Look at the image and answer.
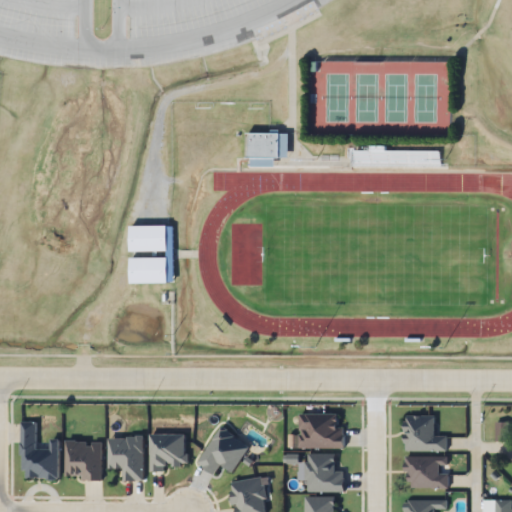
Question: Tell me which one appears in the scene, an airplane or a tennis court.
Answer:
tennis court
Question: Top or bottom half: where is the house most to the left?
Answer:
bottom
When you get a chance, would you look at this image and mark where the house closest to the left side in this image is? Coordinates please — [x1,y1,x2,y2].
[20,422,59,480]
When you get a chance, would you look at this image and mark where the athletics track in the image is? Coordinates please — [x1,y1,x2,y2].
[198,172,512,338]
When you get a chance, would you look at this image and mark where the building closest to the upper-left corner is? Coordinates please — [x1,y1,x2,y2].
[128,226,166,252]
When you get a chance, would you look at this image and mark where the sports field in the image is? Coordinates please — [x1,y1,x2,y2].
[220,194,512,316]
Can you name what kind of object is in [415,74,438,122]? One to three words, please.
tennis court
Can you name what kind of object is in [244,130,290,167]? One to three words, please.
building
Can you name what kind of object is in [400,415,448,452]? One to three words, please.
house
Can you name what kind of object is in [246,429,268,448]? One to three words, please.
swimming pool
